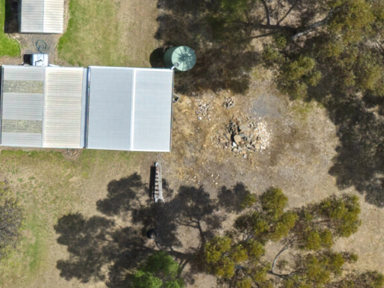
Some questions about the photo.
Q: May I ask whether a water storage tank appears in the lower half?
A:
No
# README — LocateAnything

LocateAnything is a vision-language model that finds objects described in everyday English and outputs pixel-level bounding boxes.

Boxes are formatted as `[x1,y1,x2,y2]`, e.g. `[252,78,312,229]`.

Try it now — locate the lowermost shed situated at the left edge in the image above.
[0,65,88,148]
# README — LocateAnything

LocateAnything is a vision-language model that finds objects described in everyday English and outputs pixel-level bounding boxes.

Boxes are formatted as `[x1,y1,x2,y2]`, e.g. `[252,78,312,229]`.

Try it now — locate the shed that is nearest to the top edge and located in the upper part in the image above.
[16,0,65,34]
